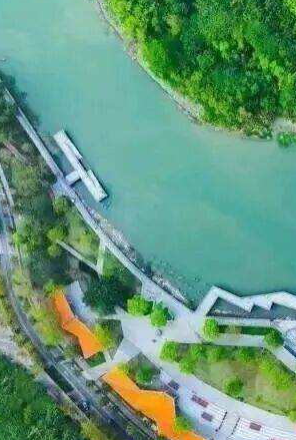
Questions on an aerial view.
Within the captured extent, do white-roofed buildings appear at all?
No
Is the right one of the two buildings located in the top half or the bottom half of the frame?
bottom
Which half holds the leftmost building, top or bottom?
bottom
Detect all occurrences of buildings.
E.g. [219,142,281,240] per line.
[54,287,102,359]
[102,367,205,440]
